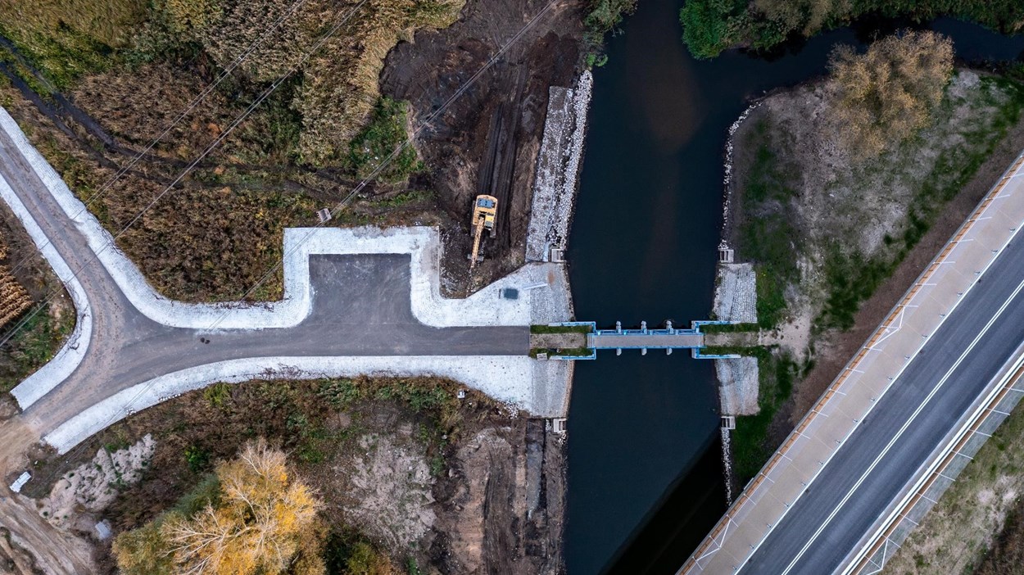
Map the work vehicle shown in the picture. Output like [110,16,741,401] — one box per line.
[470,194,497,263]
